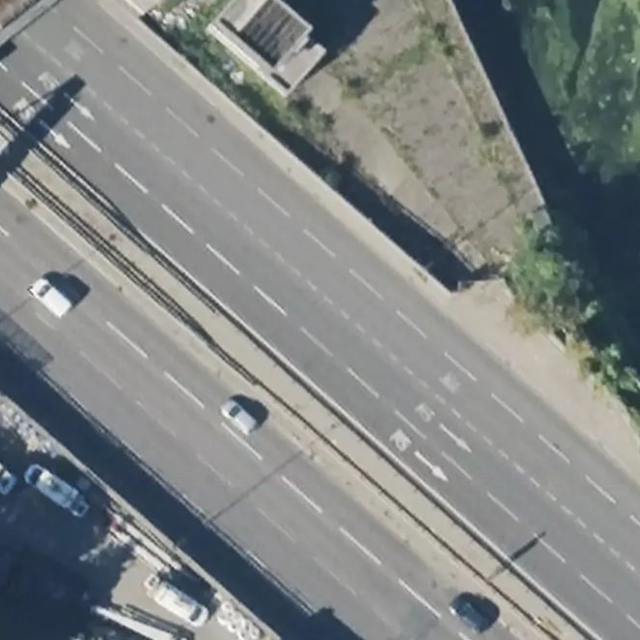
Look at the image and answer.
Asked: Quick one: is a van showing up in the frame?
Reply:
Yes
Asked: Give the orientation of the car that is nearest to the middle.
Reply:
at an angle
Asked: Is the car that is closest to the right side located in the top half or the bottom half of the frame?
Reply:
bottom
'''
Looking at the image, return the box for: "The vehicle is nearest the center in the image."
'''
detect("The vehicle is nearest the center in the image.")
[219,395,263,436]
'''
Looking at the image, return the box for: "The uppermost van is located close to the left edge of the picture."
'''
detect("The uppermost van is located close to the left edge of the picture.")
[28,274,78,321]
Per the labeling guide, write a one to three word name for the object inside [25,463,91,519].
van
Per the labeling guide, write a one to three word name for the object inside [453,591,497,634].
car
